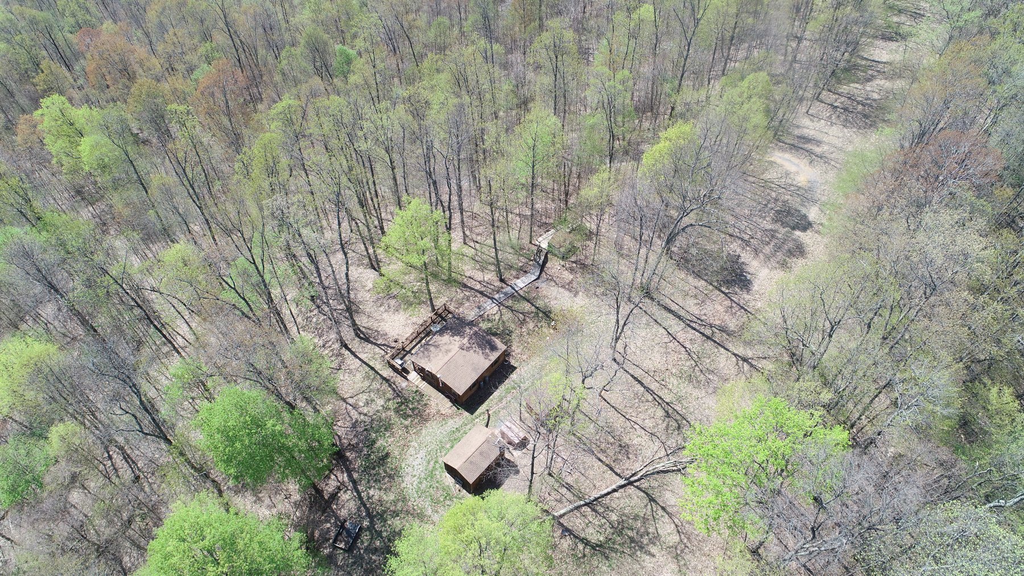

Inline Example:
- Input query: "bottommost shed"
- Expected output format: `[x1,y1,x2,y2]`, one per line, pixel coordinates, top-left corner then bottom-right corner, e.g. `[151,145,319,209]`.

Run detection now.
[442,425,505,490]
